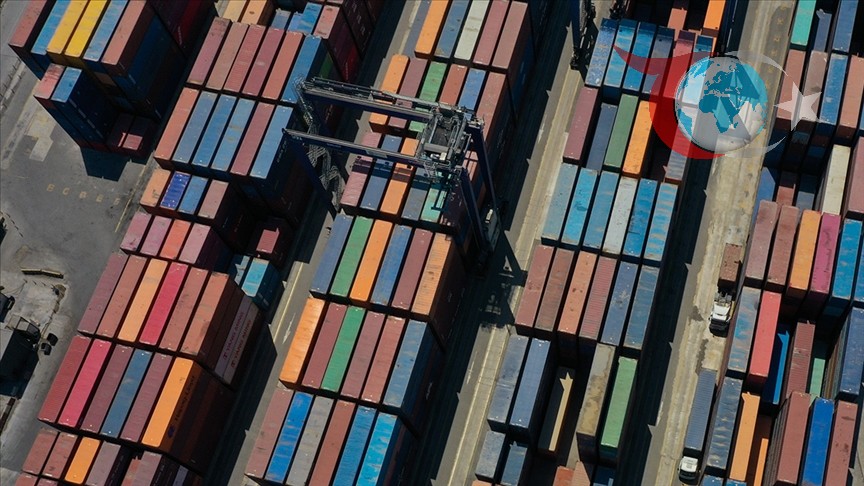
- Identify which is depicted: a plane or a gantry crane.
gantry crane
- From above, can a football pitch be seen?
No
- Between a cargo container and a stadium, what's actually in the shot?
cargo container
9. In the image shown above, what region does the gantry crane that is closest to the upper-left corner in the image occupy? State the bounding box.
[268,78,507,269]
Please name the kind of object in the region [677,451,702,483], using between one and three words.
truck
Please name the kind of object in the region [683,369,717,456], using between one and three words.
shipping container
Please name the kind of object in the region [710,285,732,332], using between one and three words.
truck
